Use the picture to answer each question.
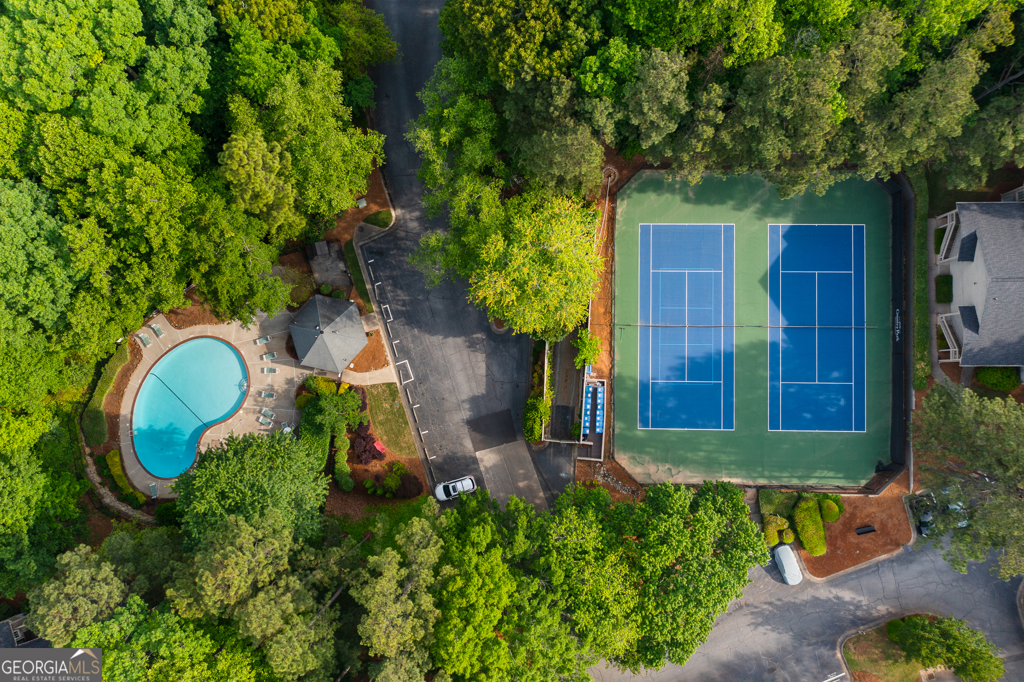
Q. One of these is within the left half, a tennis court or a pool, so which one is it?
pool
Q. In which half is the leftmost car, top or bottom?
bottom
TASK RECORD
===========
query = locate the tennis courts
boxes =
[751,173,891,486]
[614,171,751,485]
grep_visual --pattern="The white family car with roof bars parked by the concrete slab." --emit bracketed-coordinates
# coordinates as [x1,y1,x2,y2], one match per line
[434,475,478,500]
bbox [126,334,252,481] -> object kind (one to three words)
swimming pool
